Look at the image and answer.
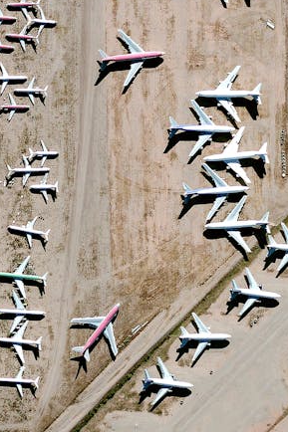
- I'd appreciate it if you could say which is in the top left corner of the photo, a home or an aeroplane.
aeroplane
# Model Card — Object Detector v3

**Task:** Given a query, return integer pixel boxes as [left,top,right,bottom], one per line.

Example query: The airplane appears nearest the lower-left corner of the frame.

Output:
[0,366,38,397]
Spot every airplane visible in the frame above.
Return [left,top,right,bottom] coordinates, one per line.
[0,43,14,49]
[23,7,57,34]
[7,154,49,186]
[99,30,164,85]
[8,217,49,247]
[0,256,48,297]
[0,291,45,332]
[30,173,58,201]
[180,314,231,361]
[142,358,194,405]
[5,24,38,50]
[169,100,234,156]
[0,322,42,362]
[182,163,249,220]
[196,66,262,122]
[0,94,30,120]
[0,366,38,397]
[204,127,270,183]
[230,268,280,315]
[205,196,270,253]
[0,11,16,23]
[267,223,288,270]
[30,141,58,167]
[69,304,119,362]
[7,0,41,17]
[0,63,27,94]
[14,78,47,104]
